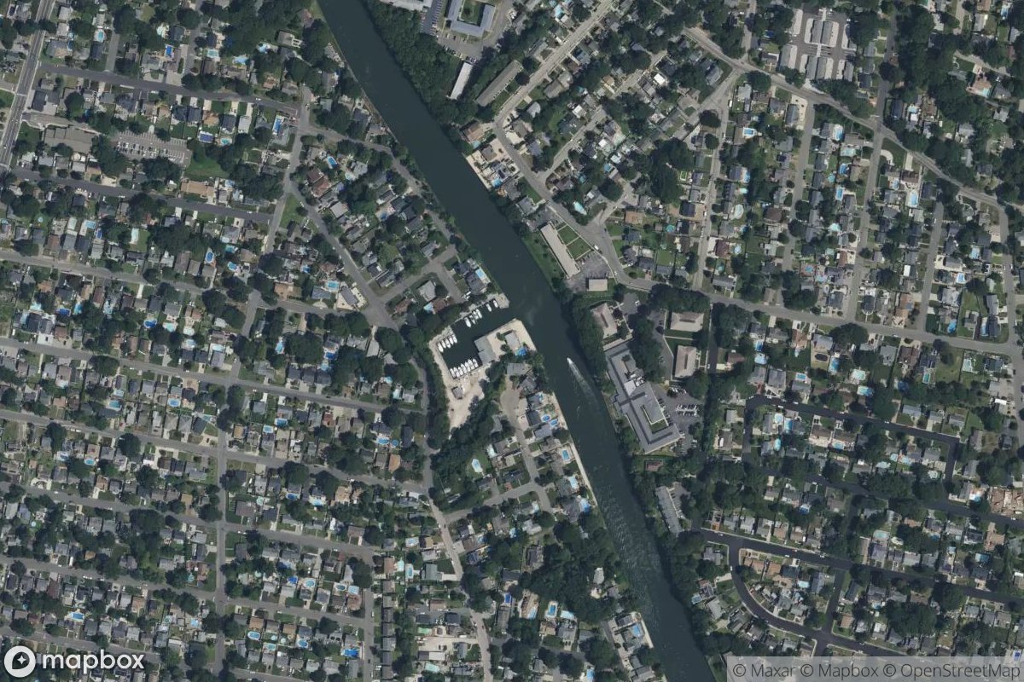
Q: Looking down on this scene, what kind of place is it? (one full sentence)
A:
The area seen from above is a residential area.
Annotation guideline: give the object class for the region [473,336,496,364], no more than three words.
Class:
shed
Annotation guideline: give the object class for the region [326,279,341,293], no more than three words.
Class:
swimming pool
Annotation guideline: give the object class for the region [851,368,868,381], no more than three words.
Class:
swimming pool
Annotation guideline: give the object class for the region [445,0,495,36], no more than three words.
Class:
building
